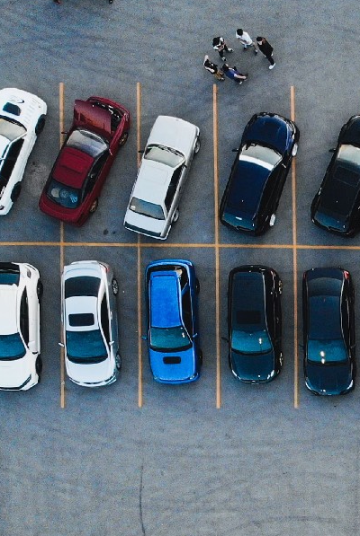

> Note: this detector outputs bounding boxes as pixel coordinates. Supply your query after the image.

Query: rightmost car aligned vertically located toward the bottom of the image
[296,266,359,397]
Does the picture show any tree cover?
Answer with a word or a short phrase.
No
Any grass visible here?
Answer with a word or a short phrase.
No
